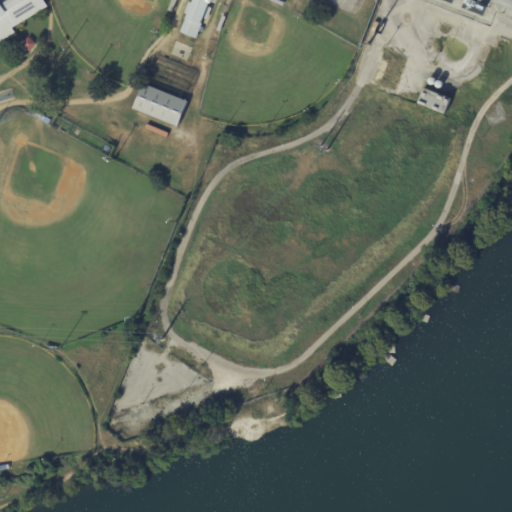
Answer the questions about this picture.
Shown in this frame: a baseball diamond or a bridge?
baseball diamond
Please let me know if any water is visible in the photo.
Yes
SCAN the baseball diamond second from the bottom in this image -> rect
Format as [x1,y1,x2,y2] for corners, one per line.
[0,106,190,345]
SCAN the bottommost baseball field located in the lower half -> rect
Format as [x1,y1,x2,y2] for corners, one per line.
[0,336,96,464]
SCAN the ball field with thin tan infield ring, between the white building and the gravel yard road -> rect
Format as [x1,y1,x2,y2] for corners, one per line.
[202,0,358,126]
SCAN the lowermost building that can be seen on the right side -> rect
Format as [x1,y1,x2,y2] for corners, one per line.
[417,88,453,113]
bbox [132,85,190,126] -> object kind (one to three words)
shed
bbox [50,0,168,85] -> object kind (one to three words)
baseball field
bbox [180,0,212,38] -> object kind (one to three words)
building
